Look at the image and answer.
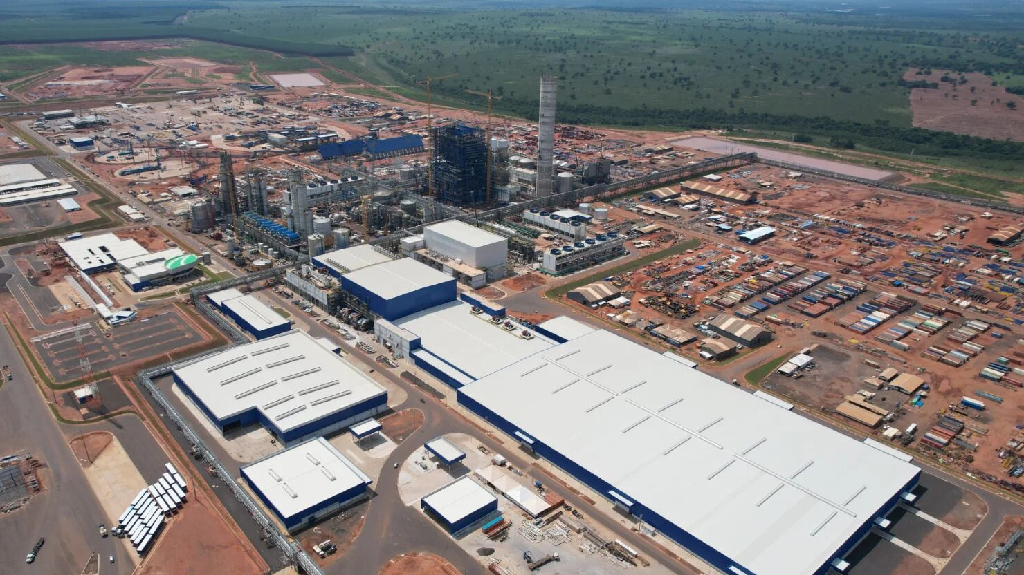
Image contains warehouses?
Yes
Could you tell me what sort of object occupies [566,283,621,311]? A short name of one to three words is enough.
shed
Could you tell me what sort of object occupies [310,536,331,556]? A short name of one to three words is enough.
vehicle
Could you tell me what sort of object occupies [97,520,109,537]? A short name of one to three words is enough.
vehicle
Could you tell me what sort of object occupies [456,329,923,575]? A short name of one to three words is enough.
warehouse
